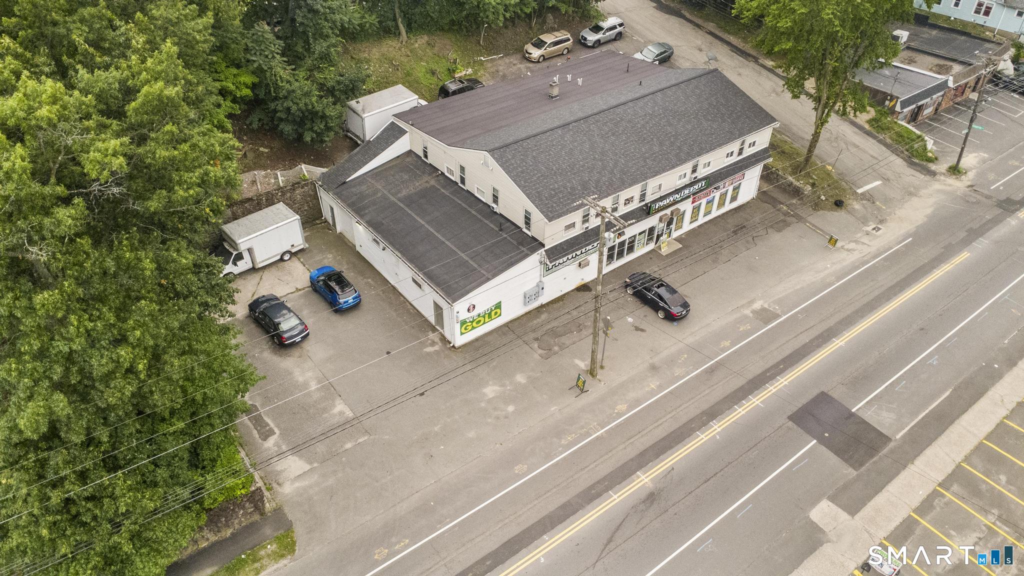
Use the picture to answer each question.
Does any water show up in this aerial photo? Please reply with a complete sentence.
No, the scene doesn't show any water.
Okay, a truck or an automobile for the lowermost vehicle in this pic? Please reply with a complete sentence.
In the photo, the lowermost vehicle shows up as an automobile.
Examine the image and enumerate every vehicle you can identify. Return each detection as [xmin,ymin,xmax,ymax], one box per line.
[198,205,309,290]
[578,16,625,46]
[347,87,433,143]
[629,40,679,63]
[522,30,573,61]
[996,68,1024,89]
[309,266,365,313]
[248,296,309,350]
[430,73,485,102]
[624,269,696,321]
